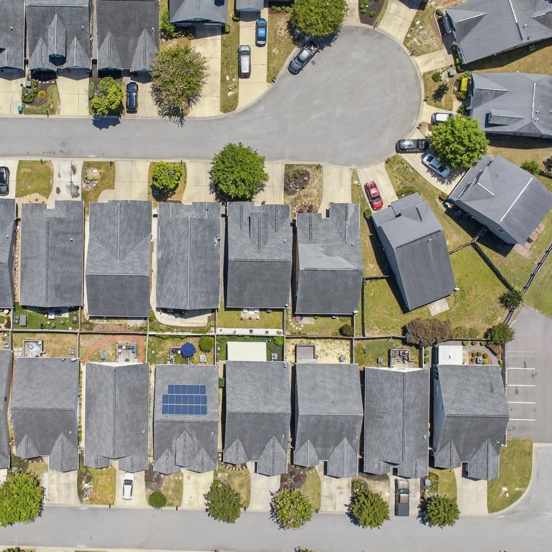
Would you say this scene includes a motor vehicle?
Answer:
Yes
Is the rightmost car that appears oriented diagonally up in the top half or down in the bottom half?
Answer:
top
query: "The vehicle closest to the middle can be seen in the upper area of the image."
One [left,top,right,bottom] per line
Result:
[364,182,382,209]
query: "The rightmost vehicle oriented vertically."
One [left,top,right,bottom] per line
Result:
[396,480,409,516]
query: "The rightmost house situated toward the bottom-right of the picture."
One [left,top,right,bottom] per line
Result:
[432,364,512,485]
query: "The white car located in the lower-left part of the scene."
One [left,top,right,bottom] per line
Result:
[122,473,134,498]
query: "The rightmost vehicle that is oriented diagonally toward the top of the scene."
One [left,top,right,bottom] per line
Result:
[422,153,448,177]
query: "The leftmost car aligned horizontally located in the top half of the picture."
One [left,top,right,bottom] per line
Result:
[398,139,425,152]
